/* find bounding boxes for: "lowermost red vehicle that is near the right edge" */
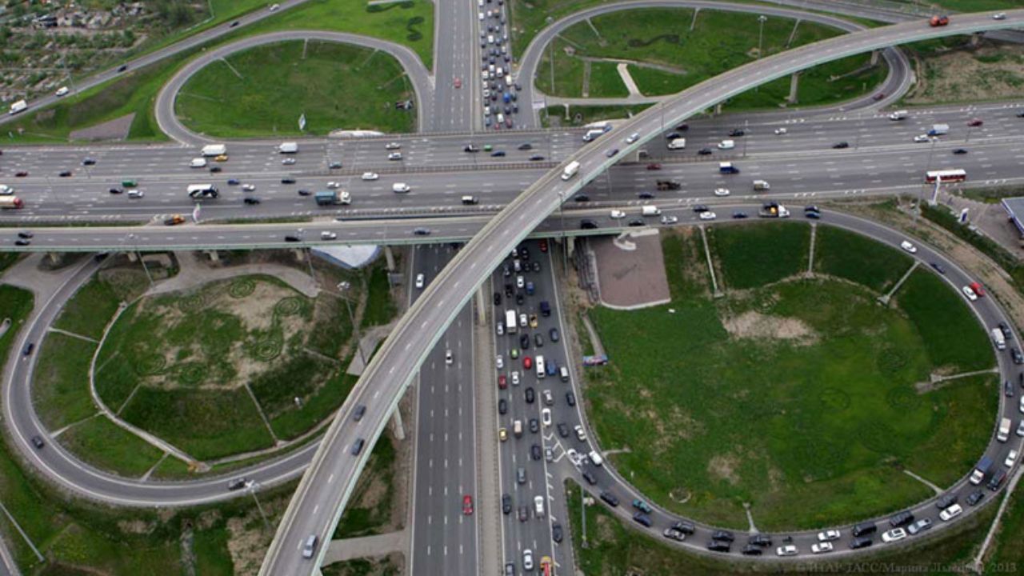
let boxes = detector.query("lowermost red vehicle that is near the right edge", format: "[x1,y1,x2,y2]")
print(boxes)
[968,280,985,295]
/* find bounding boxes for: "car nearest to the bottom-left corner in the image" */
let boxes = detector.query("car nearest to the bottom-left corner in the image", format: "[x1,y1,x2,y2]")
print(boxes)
[31,435,45,448]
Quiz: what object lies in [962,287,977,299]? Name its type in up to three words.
vehicle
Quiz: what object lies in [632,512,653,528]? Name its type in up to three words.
car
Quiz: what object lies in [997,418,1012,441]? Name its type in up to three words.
vehicle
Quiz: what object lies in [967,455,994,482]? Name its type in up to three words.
truck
